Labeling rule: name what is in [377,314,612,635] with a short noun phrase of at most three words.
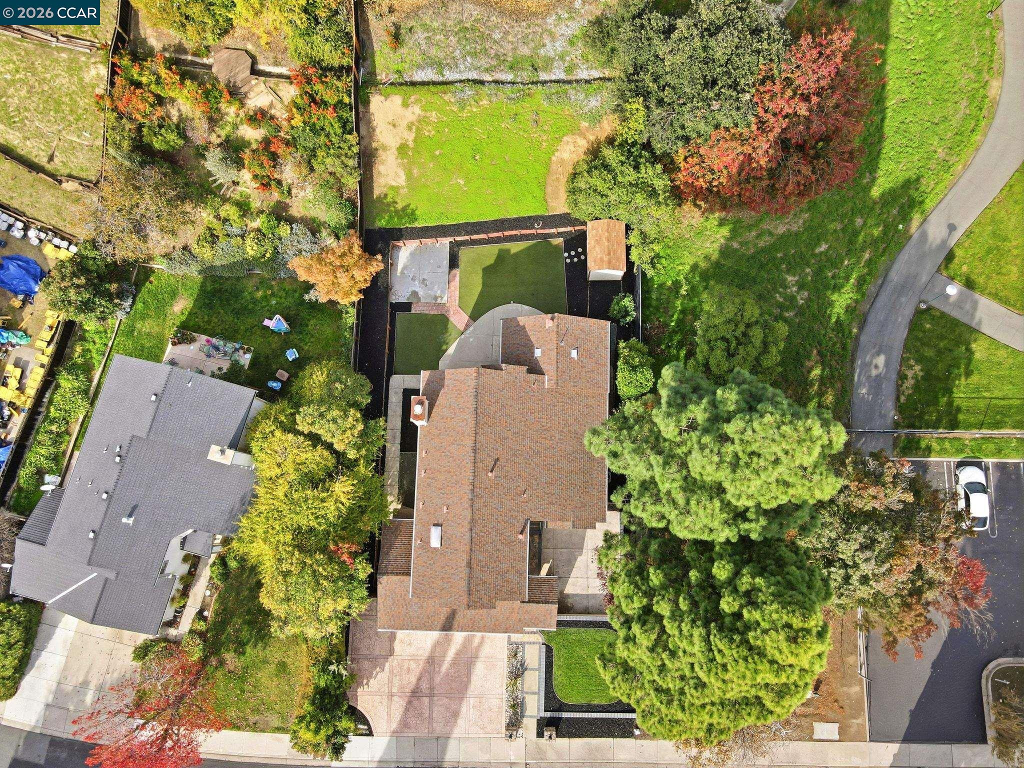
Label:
house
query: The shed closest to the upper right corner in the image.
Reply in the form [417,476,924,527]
[584,219,626,282]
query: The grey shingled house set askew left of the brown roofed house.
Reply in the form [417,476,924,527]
[11,355,269,635]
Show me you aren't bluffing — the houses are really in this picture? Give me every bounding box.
[377,314,612,635]
[11,355,269,635]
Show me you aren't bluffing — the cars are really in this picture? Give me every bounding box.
[954,466,994,534]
